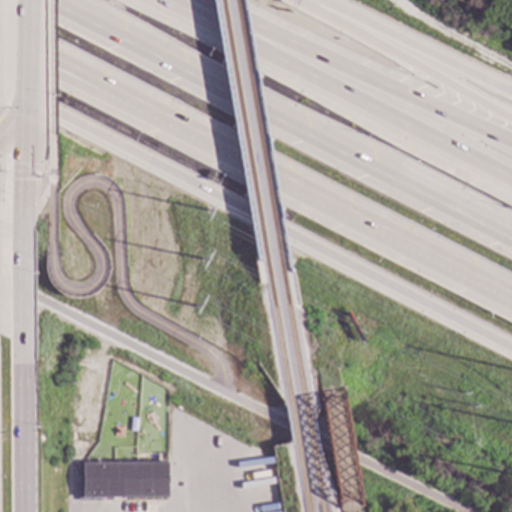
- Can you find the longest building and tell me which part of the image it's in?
bottom left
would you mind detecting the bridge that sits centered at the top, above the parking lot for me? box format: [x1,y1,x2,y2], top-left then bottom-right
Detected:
[216,0,294,270]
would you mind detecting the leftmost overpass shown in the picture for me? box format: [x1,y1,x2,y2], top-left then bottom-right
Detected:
[0,0,59,512]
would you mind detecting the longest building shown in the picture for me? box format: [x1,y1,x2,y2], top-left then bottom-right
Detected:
[85,462,168,500]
